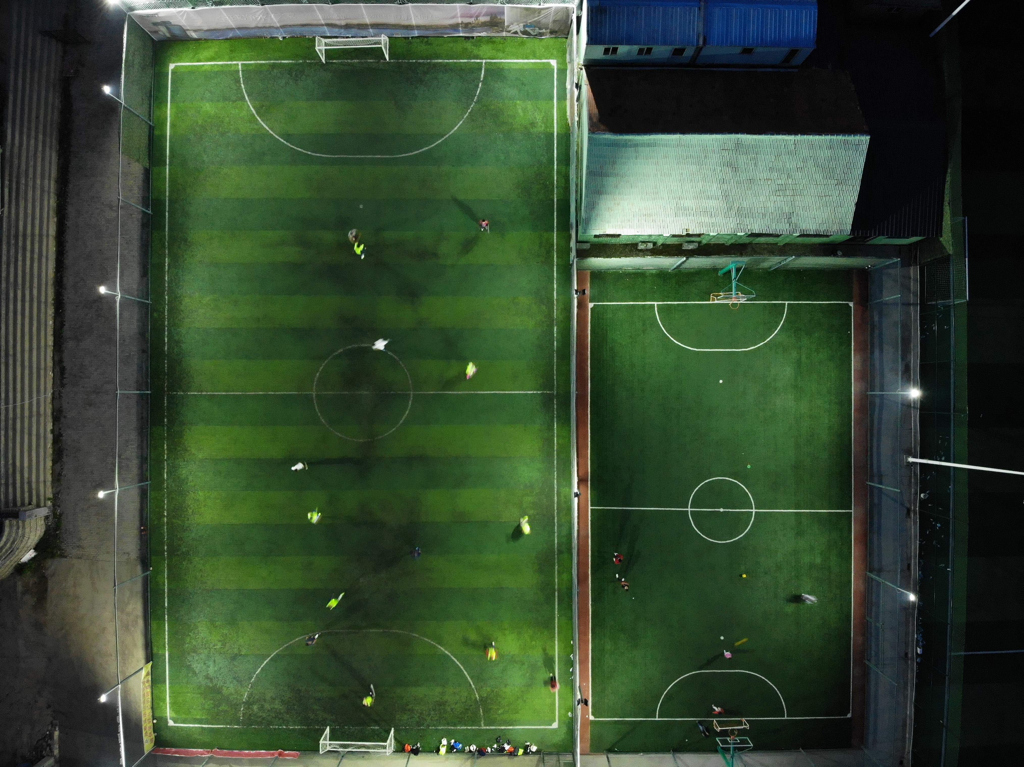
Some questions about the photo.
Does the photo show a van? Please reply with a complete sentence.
No, I find no van anywhere in the image.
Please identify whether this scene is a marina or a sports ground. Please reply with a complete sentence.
What you see here is a sports ground.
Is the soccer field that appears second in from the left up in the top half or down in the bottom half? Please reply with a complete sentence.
Seen from above, the soccer field that appears second in from the left lies in the bottom half of the view.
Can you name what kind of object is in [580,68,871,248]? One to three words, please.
building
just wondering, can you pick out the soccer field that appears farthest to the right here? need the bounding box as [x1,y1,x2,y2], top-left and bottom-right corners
[931,0,1024,752]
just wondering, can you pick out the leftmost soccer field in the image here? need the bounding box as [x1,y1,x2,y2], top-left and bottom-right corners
[152,36,572,756]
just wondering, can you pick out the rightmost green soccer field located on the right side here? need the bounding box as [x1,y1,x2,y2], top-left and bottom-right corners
[578,270,869,756]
